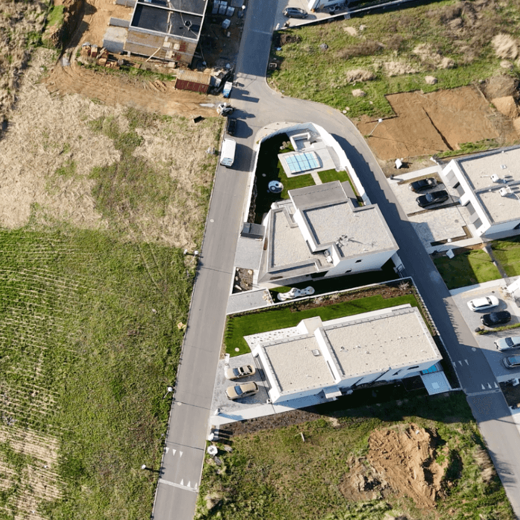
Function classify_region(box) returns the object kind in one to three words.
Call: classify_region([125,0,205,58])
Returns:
house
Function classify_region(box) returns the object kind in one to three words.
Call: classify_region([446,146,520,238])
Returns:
house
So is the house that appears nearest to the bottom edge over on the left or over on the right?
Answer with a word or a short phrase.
right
